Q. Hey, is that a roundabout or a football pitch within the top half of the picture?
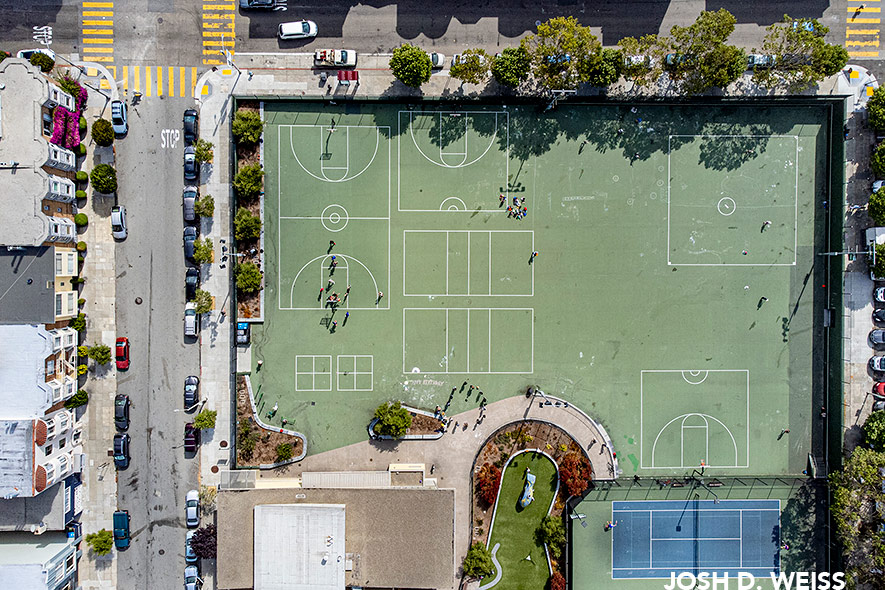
football pitch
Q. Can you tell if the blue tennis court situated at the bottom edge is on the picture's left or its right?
right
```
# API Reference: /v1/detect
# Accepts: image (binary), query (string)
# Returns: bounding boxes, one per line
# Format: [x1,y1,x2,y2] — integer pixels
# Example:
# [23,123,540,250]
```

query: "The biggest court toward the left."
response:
[278,125,391,309]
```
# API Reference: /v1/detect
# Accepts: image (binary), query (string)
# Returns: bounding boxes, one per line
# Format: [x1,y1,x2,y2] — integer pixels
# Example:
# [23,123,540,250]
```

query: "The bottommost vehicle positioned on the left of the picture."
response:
[183,563,204,590]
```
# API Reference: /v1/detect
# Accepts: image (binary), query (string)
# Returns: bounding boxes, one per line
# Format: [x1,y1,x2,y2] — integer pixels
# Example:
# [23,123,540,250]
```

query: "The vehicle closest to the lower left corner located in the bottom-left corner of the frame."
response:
[112,508,131,552]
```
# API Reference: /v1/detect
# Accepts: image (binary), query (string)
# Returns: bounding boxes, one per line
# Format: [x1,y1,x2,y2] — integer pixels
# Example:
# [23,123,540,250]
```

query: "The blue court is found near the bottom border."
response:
[612,491,780,590]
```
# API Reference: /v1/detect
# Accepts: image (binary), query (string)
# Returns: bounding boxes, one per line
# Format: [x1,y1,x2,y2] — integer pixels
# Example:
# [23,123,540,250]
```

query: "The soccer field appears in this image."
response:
[667,136,798,265]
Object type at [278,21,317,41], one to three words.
car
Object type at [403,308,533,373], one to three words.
sports court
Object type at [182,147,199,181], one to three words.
car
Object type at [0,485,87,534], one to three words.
house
